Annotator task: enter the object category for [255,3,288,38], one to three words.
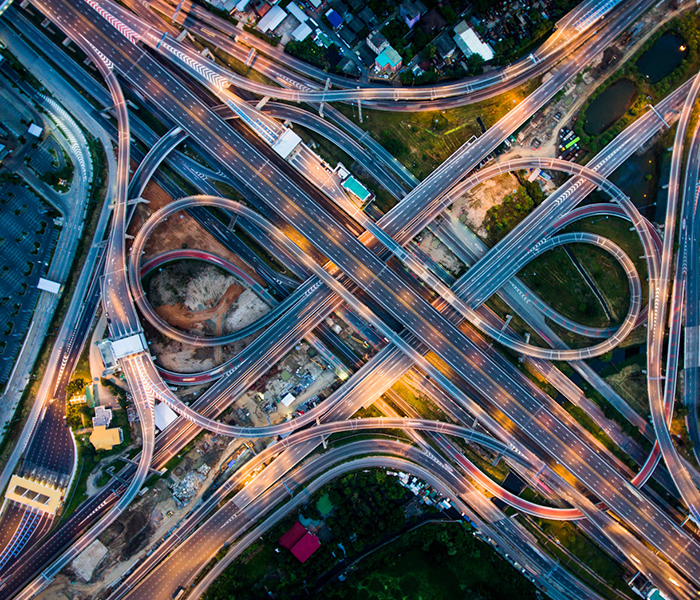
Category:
building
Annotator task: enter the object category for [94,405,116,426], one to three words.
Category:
house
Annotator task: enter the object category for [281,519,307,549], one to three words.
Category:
building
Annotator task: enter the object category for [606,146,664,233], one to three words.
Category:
pond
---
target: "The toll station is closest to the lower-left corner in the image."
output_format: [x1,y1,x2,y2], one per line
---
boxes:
[4,469,65,513]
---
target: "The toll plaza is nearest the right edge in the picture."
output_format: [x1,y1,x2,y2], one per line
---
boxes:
[278,128,308,160]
